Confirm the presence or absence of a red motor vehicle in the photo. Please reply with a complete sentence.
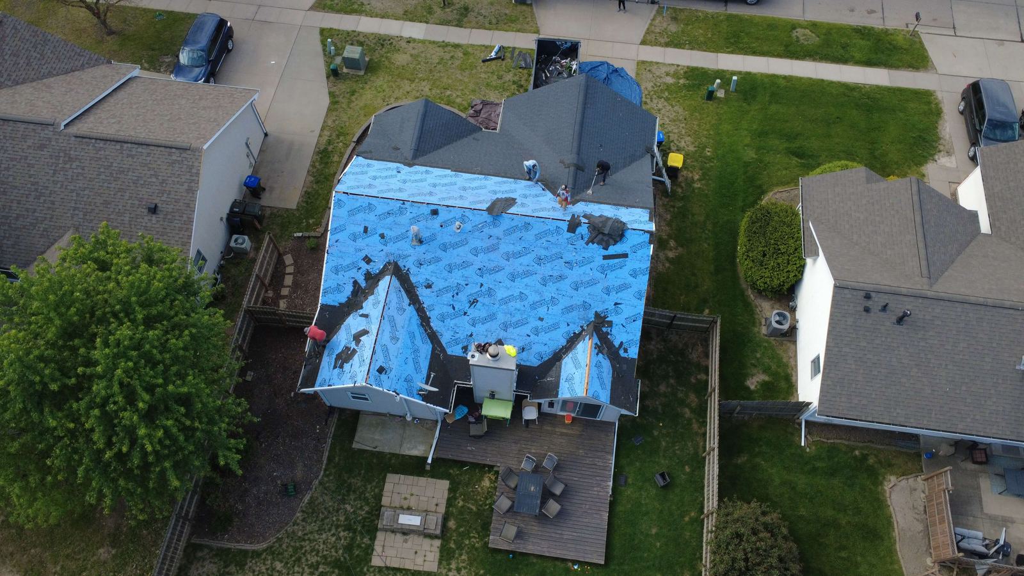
No, I find no red motor vehicle anywhere in the image.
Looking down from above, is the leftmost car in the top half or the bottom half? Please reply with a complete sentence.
It is in the top half that the leftmost car appears.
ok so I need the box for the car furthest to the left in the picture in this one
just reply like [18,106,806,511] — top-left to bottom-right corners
[172,13,235,84]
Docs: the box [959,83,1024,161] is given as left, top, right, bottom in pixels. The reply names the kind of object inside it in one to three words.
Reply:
car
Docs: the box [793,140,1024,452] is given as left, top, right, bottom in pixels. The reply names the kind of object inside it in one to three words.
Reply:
house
